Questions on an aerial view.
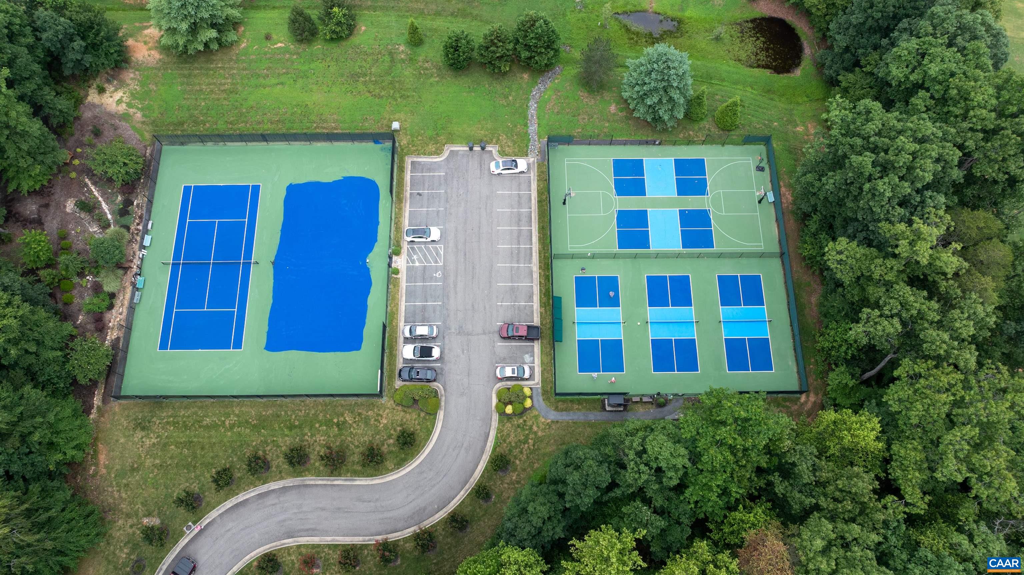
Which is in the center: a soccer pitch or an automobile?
automobile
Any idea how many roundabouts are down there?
zero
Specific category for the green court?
basketball court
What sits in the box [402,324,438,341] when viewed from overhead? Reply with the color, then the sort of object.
white car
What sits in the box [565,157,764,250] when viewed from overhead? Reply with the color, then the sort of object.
green basketball court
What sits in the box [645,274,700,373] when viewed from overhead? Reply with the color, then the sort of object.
blue sports court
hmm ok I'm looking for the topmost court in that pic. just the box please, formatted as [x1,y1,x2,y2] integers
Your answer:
[612,157,710,197]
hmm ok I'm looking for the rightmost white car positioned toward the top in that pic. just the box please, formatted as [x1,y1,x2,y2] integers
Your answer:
[491,159,527,177]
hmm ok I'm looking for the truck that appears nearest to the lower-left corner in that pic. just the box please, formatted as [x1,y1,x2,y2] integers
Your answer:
[168,554,199,575]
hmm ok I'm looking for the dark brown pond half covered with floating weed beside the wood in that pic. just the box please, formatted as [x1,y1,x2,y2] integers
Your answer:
[731,17,802,75]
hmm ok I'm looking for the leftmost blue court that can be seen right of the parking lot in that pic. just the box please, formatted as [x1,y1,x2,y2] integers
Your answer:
[574,275,625,374]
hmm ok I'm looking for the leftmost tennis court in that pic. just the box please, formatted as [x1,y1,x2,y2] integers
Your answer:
[157,184,261,351]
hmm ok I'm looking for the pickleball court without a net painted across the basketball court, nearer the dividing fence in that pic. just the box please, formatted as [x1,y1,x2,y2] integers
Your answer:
[615,208,715,250]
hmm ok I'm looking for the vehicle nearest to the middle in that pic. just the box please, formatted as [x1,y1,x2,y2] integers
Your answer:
[498,322,542,342]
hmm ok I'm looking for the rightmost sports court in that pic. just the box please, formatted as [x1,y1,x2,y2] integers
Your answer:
[716,274,775,372]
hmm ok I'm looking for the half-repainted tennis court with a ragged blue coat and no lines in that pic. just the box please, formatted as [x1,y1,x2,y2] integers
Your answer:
[264,176,379,353]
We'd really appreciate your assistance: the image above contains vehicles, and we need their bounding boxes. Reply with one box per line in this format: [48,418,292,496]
[404,227,440,244]
[398,365,437,382]
[402,324,438,341]
[491,159,527,177]
[495,365,532,381]
[498,322,542,342]
[168,554,199,575]
[402,344,441,361]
